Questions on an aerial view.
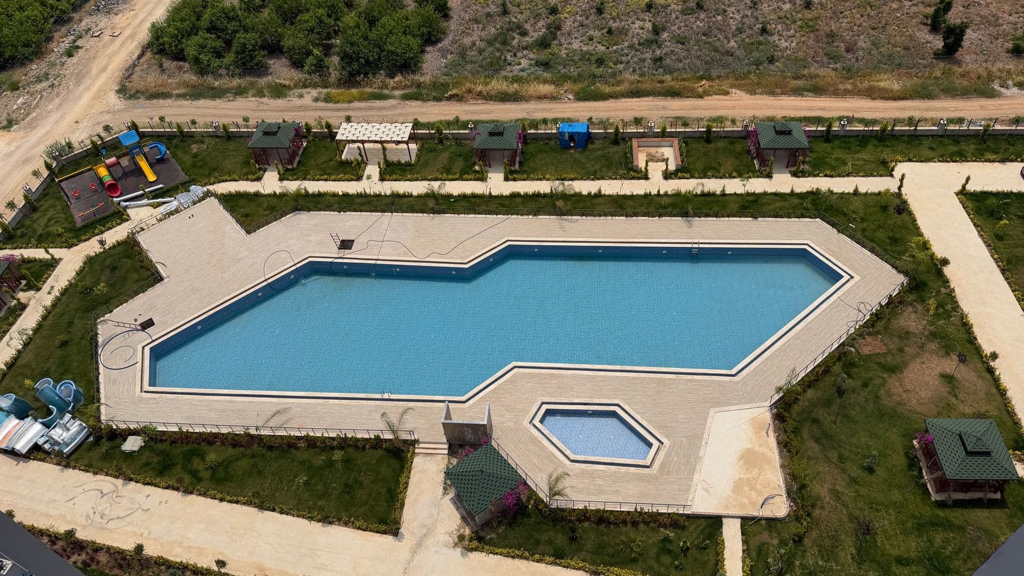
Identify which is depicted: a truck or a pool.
pool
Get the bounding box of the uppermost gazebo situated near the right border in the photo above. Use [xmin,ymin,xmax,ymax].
[914,418,1022,497]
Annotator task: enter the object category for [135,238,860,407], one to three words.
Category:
swimming pool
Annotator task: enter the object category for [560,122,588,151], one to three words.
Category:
shed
